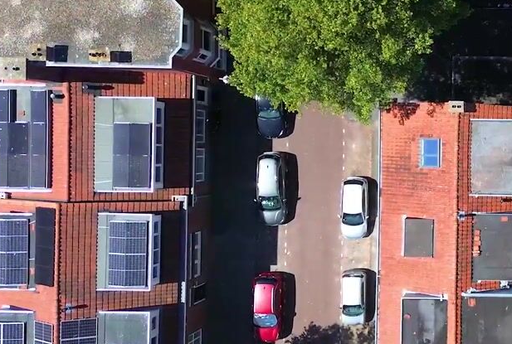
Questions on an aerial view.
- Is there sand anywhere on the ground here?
No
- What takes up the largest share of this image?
buildings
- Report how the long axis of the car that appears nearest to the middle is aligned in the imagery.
up and down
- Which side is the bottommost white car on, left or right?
right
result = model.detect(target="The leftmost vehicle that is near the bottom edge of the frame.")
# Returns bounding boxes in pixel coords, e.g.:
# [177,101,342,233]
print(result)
[249,273,284,340]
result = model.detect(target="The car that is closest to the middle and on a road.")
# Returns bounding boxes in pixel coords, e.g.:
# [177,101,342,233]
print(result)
[252,153,286,223]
